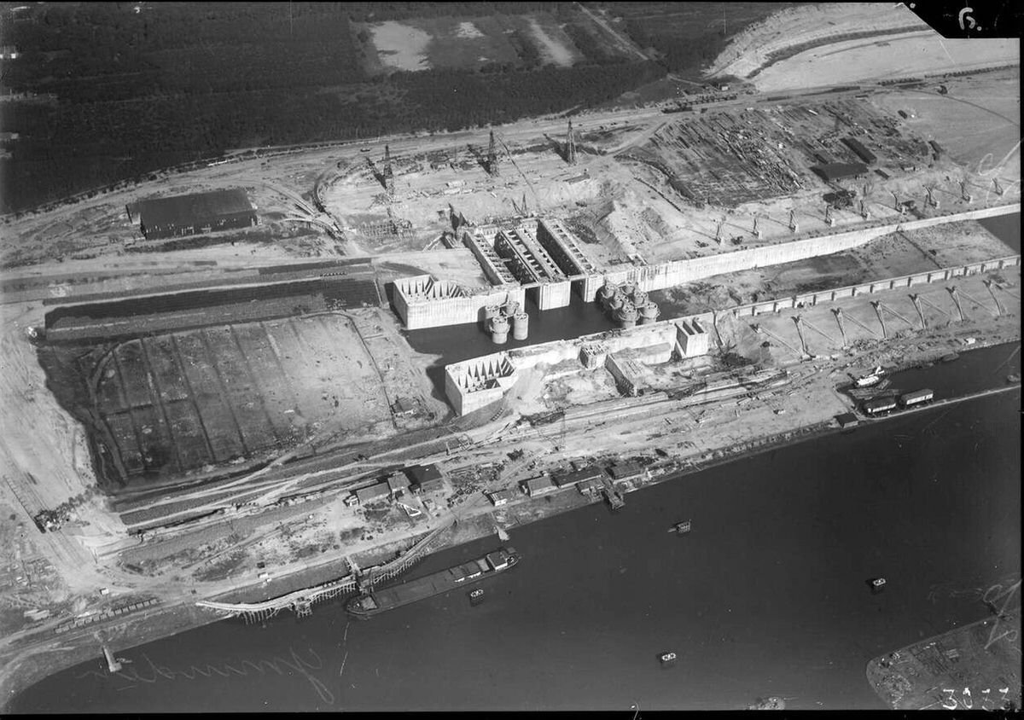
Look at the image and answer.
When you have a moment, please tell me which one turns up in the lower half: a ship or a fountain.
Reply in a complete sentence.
There is a ship in the lower half.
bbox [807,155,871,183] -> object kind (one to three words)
shed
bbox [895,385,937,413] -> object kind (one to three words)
boat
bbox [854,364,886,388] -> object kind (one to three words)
boat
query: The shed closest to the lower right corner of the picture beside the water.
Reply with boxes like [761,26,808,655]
[831,408,861,429]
